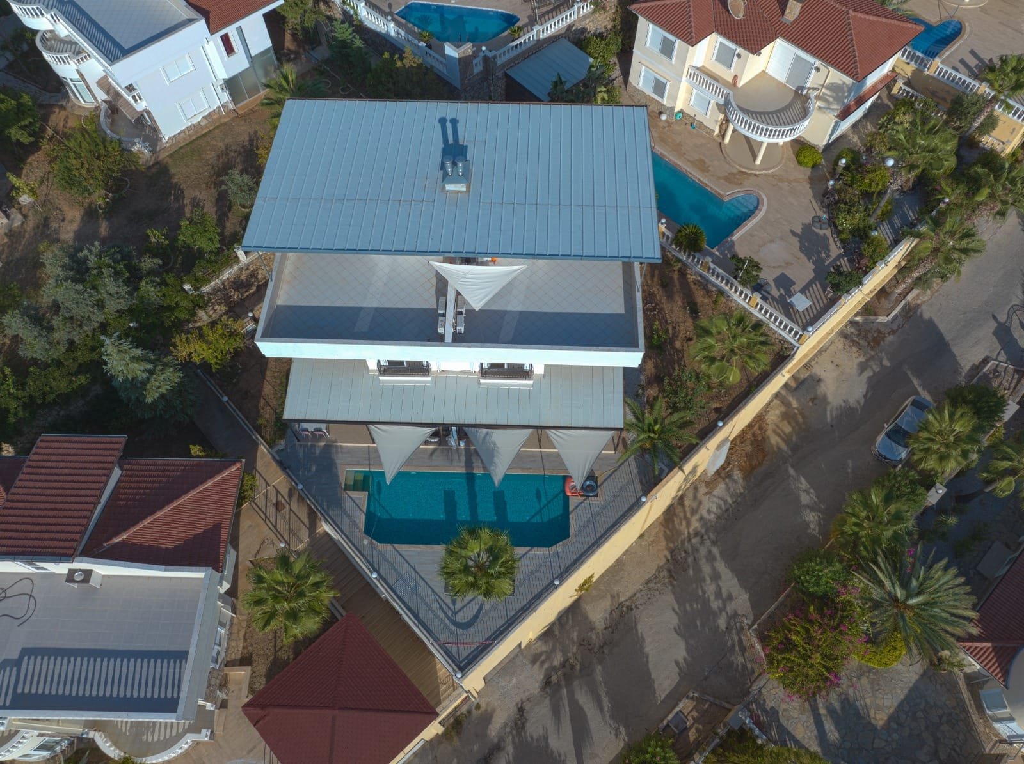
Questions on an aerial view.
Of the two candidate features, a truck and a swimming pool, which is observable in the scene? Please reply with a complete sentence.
Looking from above, you can make out a swimming pool.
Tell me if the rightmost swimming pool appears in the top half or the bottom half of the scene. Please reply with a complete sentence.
Seen from above, the rightmost swimming pool lies in the top half of the view.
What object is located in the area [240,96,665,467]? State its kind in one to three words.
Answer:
house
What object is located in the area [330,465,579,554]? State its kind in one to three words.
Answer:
swimming pool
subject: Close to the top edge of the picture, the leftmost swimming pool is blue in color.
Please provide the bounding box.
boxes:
[393,1,521,44]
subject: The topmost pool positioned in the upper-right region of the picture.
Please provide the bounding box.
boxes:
[911,14,970,61]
